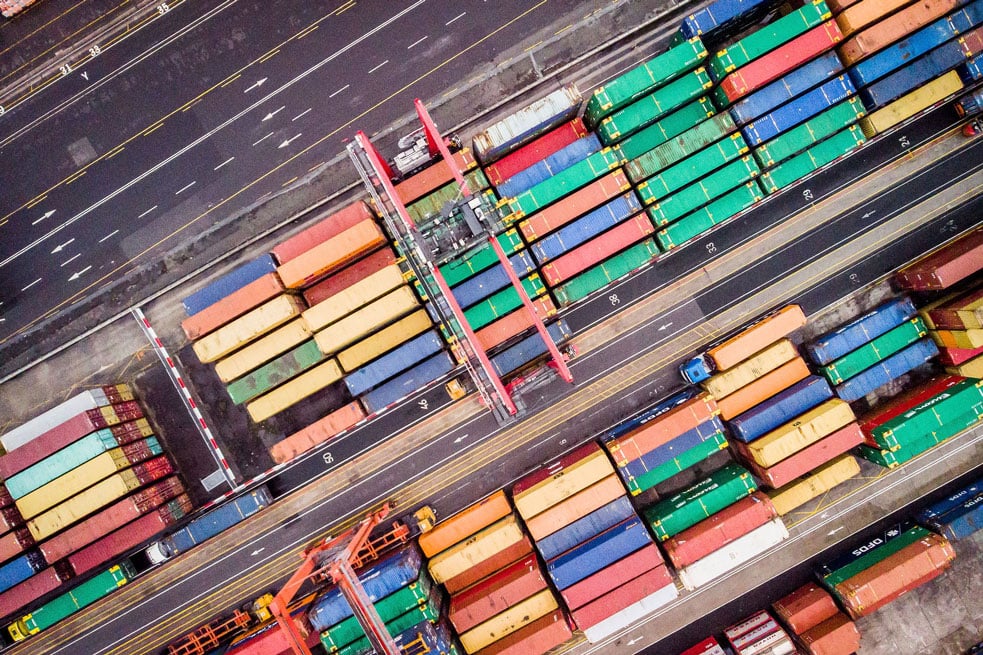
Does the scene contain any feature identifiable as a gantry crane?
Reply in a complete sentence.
Yes, the photo shows a gantry crane.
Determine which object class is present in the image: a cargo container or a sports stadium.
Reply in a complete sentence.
It is a cargo container that can be seen here.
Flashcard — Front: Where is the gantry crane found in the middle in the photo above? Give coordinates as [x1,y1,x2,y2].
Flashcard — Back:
[338,95,587,427]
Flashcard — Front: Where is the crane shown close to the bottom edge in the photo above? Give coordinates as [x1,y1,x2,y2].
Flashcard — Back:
[270,494,447,655]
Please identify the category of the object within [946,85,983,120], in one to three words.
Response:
truck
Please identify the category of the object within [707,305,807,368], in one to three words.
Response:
shipping container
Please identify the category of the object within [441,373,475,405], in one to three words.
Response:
truck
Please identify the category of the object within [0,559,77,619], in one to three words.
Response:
shipping container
